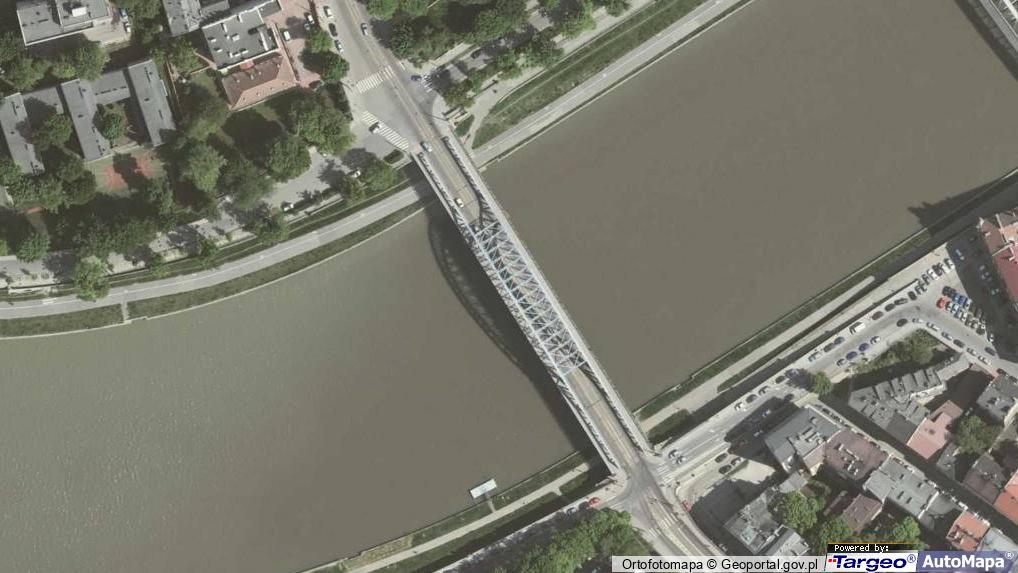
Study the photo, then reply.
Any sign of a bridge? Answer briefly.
Yes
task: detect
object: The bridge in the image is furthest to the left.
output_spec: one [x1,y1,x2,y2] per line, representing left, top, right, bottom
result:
[413,119,653,478]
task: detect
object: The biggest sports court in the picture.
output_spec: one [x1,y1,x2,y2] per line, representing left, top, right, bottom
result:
[85,147,168,196]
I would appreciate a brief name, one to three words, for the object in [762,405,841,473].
building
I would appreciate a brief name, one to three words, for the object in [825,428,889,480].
house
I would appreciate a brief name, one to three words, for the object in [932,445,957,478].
house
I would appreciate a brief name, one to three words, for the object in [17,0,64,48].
building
